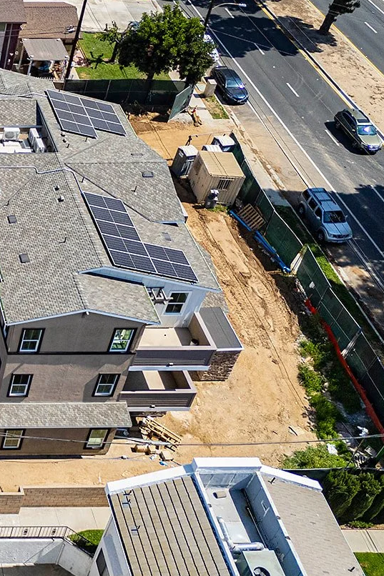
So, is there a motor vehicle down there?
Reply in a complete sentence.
Yes, there's a motor vehicle down there.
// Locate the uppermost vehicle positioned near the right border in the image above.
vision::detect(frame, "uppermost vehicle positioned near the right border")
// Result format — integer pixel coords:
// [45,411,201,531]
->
[332,113,380,155]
